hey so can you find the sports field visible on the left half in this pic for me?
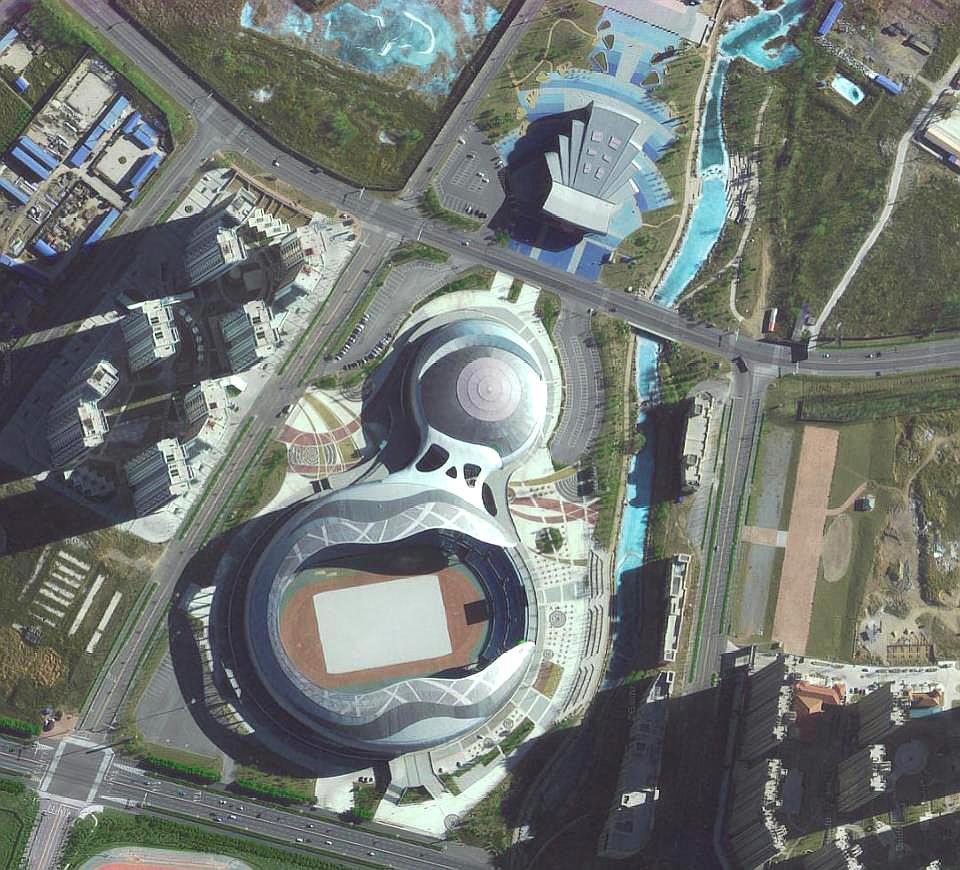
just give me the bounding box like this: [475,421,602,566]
[313,575,453,674]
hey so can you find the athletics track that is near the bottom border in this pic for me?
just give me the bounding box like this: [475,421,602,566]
[79,847,280,870]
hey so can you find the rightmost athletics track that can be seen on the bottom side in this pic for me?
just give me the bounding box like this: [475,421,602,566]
[280,562,488,687]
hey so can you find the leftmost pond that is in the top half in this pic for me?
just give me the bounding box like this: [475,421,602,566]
[232,0,514,98]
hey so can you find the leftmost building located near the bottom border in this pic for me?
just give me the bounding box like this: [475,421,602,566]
[591,672,676,862]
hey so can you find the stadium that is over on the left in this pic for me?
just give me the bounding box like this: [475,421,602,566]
[226,480,538,759]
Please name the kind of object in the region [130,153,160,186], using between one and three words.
shed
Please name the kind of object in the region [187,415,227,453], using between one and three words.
building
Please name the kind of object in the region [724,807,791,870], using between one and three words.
building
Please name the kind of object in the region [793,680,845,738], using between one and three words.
house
